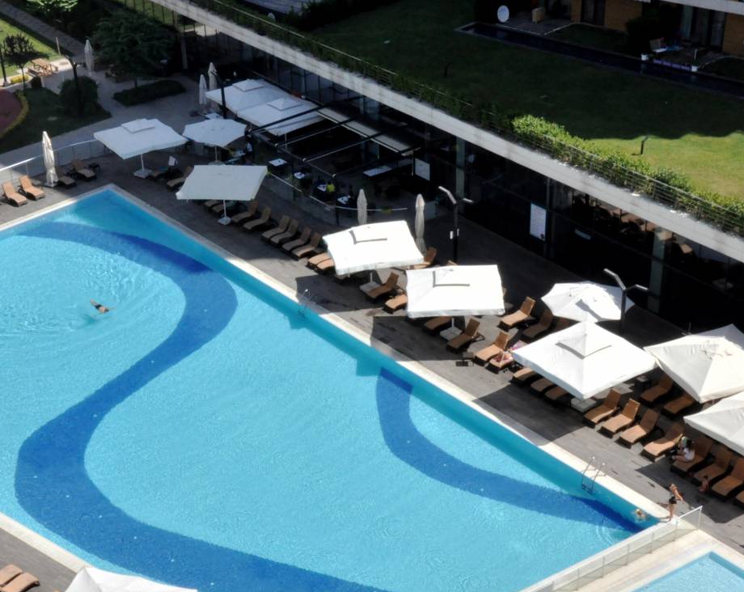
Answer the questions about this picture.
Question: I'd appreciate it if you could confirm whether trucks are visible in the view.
No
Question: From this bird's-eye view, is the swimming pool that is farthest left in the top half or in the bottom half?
bottom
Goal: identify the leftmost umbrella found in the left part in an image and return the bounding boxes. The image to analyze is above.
[42,131,57,187]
